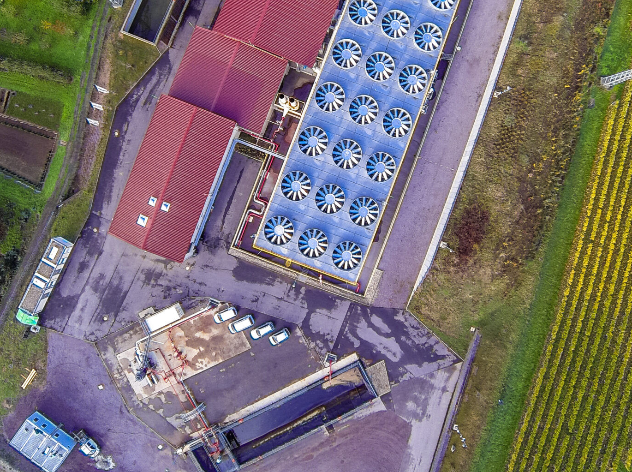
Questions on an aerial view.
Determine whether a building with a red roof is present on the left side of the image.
Yes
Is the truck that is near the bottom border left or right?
left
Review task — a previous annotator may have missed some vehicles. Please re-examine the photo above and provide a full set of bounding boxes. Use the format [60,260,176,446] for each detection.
[226,315,256,335]
[69,422,101,464]
[211,307,238,324]
[268,328,292,346]
[249,322,276,340]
